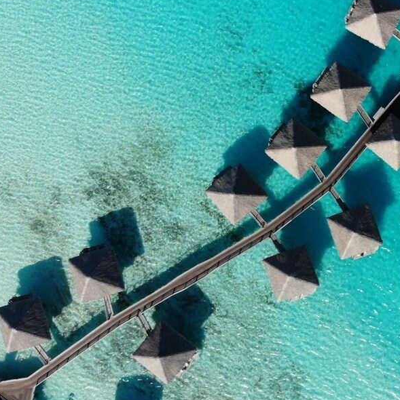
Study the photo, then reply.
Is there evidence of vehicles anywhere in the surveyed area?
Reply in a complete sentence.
No, the scene contains no vehicle.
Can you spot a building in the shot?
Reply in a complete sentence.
Yes, looking at the shot, I can spot a building.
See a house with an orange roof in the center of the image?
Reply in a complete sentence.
No, the scene shows no house with an orange roof in the center of the image.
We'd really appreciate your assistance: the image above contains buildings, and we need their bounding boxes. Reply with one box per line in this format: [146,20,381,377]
[310,60,372,123]
[326,201,385,262]
[134,319,199,386]
[263,117,329,180]
[204,162,268,226]
[365,110,400,172]
[0,292,54,355]
[67,242,127,303]
[262,242,324,303]
[345,0,400,48]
